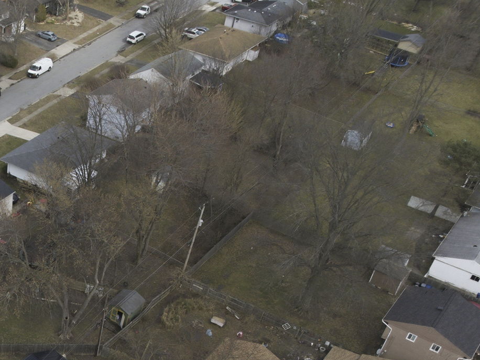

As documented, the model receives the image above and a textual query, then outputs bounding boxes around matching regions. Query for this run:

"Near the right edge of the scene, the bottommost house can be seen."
[373,288,480,360]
